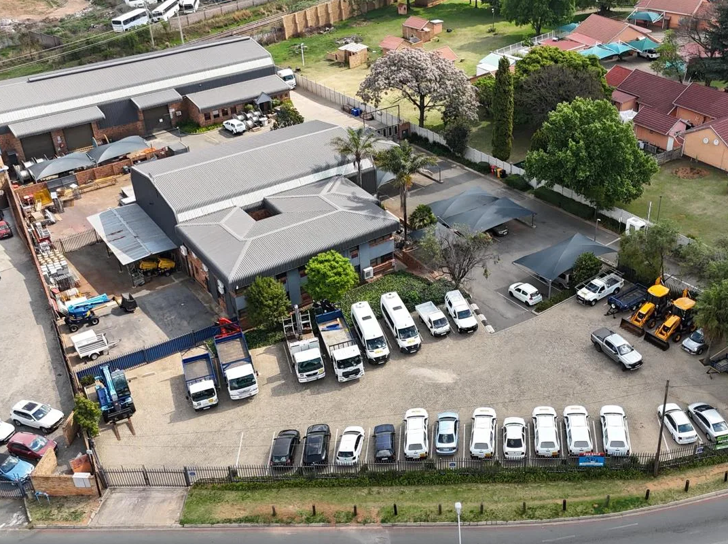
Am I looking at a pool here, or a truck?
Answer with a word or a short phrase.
truck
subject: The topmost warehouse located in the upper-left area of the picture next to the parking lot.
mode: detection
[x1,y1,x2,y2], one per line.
[0,36,291,165]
